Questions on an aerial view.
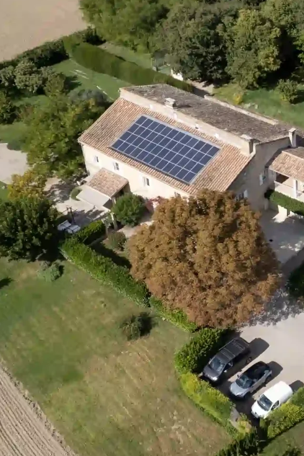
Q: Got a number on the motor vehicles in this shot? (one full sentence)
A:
The photo contains 3 motor vehicles.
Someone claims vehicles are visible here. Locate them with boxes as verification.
[202,341,253,385]
[230,365,275,402]
[248,381,294,421]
